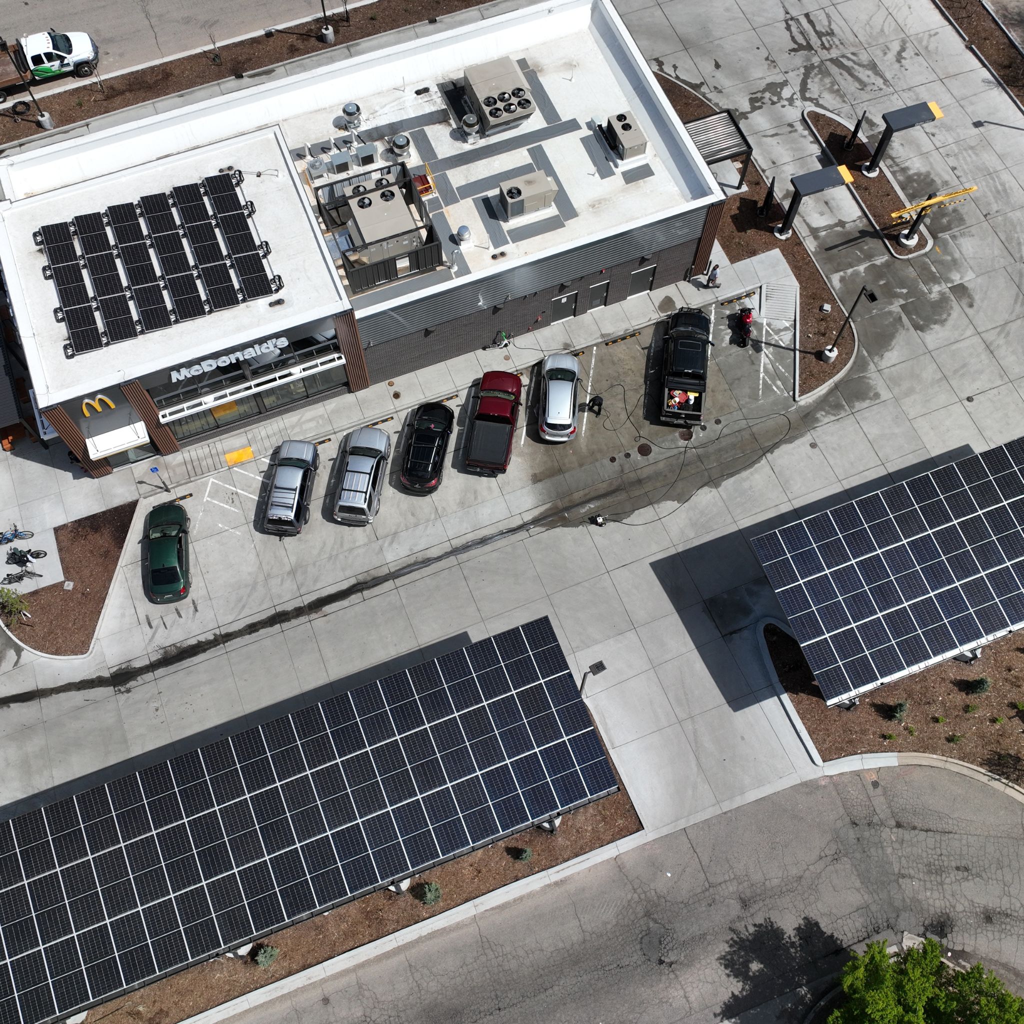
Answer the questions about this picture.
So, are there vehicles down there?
Yes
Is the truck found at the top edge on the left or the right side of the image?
left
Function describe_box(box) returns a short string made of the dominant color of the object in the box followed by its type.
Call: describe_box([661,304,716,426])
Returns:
black truck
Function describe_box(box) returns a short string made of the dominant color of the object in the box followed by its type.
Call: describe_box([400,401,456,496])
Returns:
black car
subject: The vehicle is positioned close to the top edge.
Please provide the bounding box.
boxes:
[0,28,101,90]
